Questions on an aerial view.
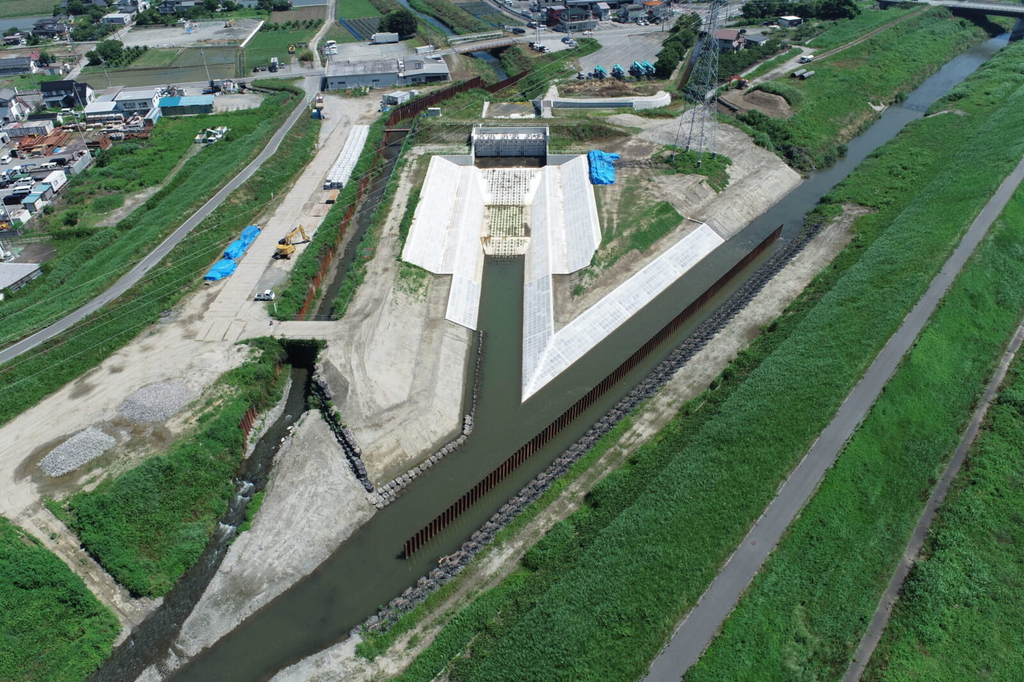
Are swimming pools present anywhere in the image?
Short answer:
No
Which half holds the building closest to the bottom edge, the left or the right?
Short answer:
left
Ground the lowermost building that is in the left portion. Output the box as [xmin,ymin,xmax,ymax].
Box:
[0,260,45,312]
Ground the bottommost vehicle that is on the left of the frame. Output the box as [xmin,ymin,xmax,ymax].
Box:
[250,286,273,300]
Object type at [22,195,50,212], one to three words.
shed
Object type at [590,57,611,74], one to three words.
work vehicle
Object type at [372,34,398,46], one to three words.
vehicle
